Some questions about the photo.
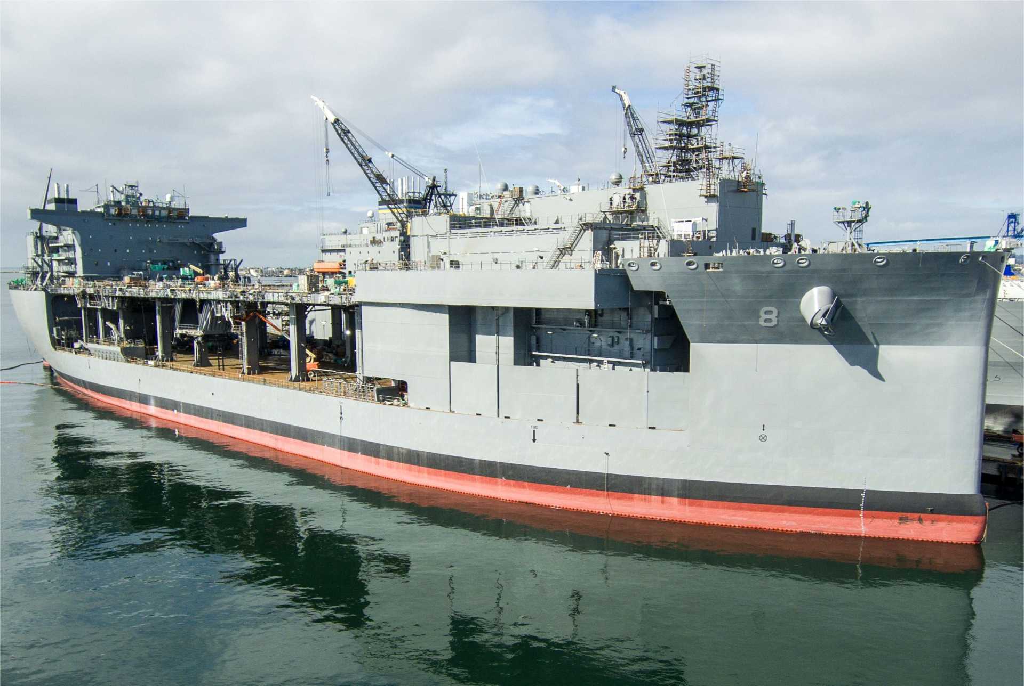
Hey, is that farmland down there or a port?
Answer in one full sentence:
It's a port.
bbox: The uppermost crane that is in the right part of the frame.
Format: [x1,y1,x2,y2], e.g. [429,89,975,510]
[608,82,672,185]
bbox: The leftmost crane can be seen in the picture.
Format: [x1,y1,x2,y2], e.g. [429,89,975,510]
[310,94,458,270]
